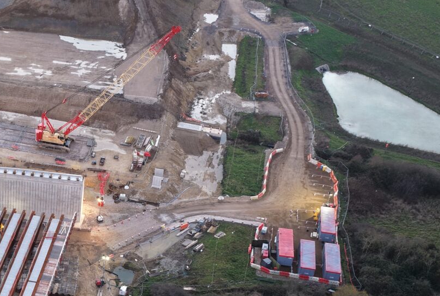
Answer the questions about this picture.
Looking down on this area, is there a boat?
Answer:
No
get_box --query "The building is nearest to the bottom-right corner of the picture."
[323,246,344,282]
